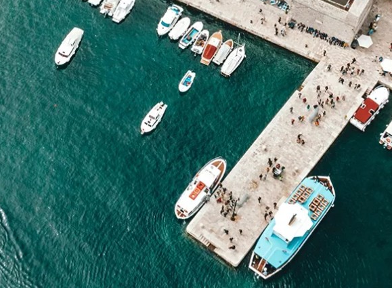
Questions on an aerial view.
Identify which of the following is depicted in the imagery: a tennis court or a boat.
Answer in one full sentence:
The one in the frame is a boat.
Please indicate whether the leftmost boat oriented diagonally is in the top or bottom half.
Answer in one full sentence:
The leftmost boat oriented diagonally sits in the top half of the picture.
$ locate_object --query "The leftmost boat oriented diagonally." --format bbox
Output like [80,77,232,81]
[52,25,88,68]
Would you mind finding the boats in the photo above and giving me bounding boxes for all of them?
[111,0,136,27]
[88,0,104,7]
[52,25,88,68]
[219,28,247,80]
[378,122,392,152]
[174,156,227,224]
[212,39,234,67]
[179,69,194,93]
[351,86,389,133]
[188,30,210,57]
[167,17,190,41]
[177,21,203,52]
[156,3,186,36]
[198,29,223,68]
[140,100,169,134]
[99,0,118,16]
